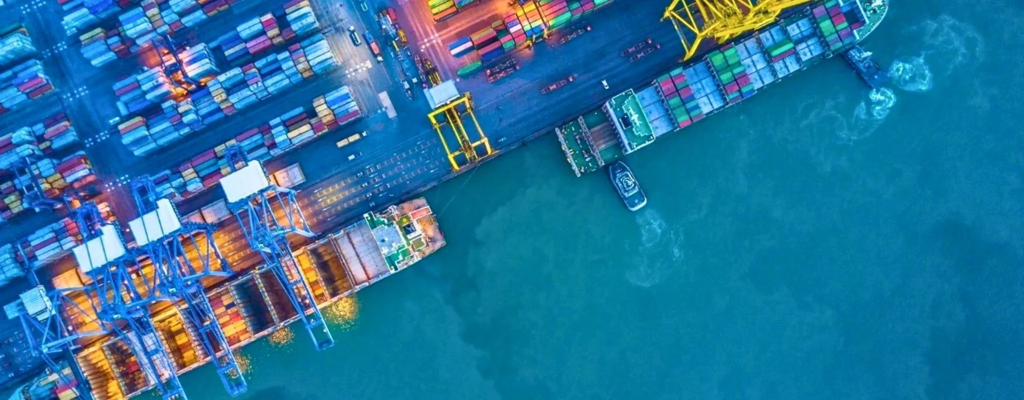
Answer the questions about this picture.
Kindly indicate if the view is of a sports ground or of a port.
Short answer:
port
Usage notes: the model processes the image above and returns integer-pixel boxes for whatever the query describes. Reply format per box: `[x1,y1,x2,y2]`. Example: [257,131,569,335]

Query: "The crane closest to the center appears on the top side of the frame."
[420,65,498,172]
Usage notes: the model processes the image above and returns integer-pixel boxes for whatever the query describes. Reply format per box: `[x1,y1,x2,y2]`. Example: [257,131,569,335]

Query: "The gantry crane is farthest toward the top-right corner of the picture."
[728,0,829,42]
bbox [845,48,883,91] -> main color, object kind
blue boat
